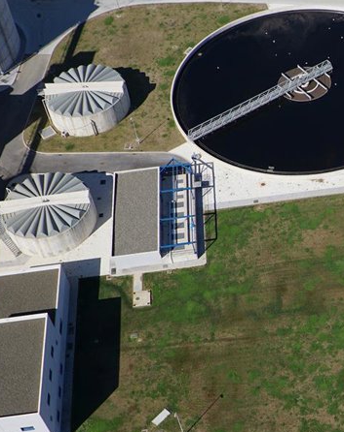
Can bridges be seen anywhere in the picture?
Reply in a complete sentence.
Yes, I can see a bridge in this picture.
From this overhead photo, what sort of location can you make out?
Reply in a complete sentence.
This looks like an industrial area.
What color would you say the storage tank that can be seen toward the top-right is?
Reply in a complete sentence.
From above, the storage tank that can be seen toward the top-right appears black.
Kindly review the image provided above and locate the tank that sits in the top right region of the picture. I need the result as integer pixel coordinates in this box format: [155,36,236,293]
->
[170,7,344,181]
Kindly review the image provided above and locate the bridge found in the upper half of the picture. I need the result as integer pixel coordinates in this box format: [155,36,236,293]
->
[185,58,334,146]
